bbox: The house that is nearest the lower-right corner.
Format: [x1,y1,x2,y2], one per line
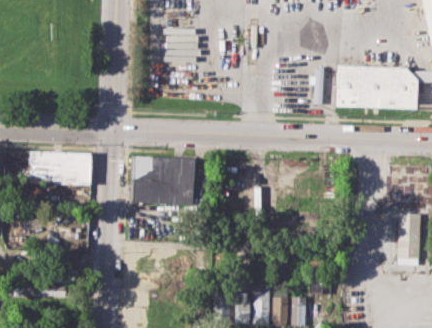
[397,212,420,258]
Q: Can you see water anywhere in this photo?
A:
No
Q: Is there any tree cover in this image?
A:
Yes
